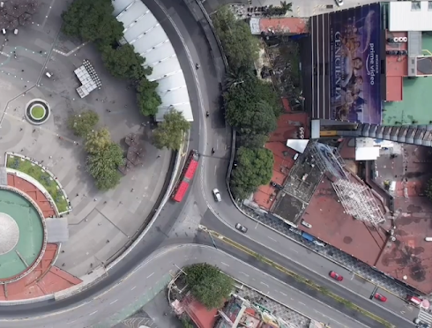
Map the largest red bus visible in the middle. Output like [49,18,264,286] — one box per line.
[169,150,199,202]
